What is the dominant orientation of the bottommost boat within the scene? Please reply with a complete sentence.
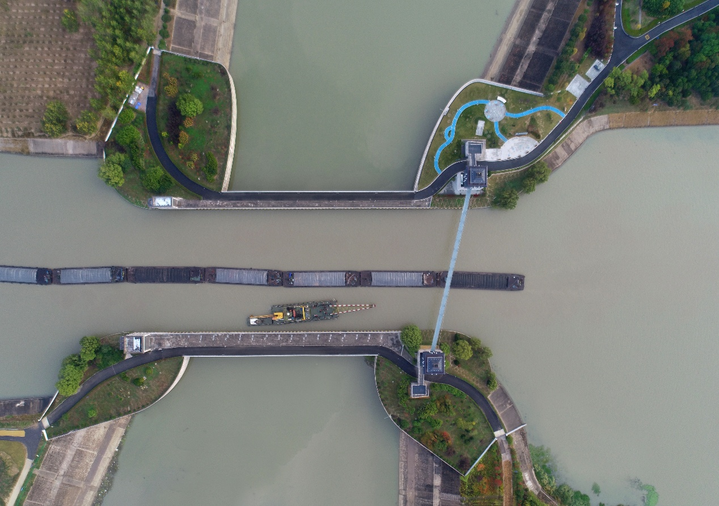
The bottommost boat has been laid out from left to right relative to the frame.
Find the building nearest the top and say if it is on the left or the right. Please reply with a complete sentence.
The building nearest the top appears in the right half of the scene.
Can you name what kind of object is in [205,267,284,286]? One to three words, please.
ship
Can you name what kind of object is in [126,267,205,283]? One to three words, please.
ship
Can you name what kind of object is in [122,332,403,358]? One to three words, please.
dam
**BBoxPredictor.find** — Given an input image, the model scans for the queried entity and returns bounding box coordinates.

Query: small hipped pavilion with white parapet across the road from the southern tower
[409,372,428,398]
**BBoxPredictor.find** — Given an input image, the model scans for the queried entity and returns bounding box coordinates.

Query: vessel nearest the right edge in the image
[437,271,525,291]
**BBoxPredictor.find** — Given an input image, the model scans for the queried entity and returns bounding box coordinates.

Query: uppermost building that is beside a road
[460,140,486,166]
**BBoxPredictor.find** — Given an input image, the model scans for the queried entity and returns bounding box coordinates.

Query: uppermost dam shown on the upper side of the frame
[150,191,432,208]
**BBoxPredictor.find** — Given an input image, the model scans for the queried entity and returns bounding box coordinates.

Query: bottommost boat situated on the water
[247,299,376,327]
